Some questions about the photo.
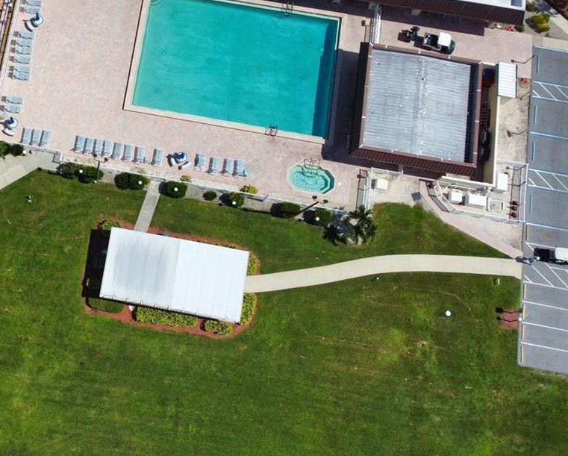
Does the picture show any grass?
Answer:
Yes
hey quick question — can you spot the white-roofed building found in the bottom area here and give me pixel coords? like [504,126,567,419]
[99,227,248,324]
